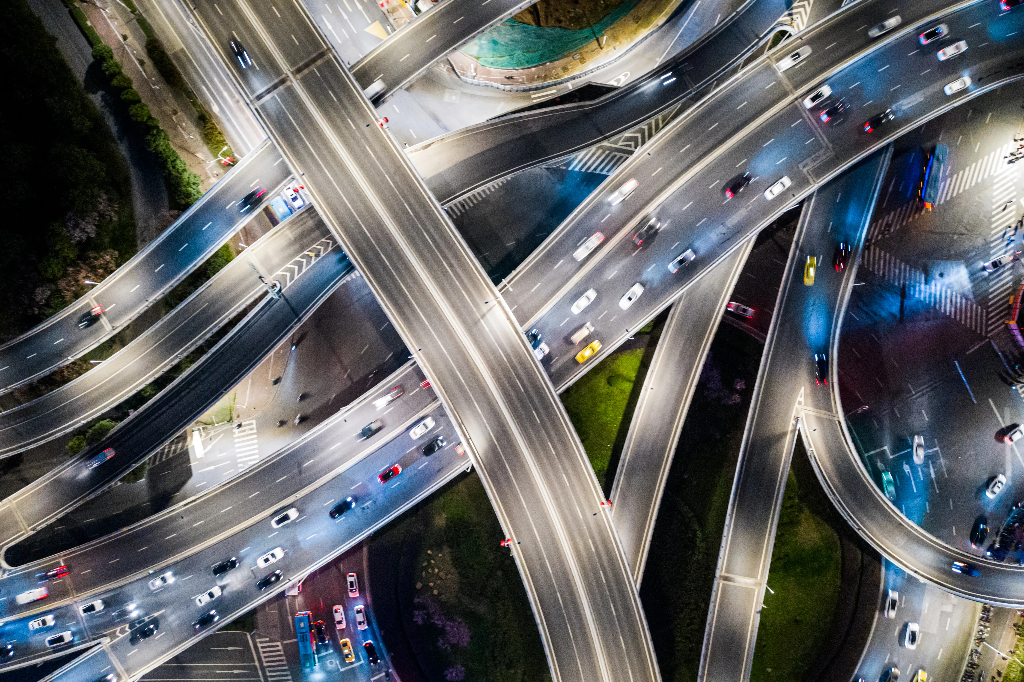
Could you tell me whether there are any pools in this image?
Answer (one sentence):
No, no pool can be seen from above.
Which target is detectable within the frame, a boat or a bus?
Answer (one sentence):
The image shows a bus.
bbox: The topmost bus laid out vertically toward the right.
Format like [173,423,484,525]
[916,142,949,214]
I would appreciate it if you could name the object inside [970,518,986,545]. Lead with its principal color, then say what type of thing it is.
black car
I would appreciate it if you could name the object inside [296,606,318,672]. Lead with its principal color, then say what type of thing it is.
blue bus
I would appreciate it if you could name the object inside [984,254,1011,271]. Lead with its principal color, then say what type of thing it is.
white car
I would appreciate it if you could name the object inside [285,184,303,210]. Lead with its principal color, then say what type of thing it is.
white car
